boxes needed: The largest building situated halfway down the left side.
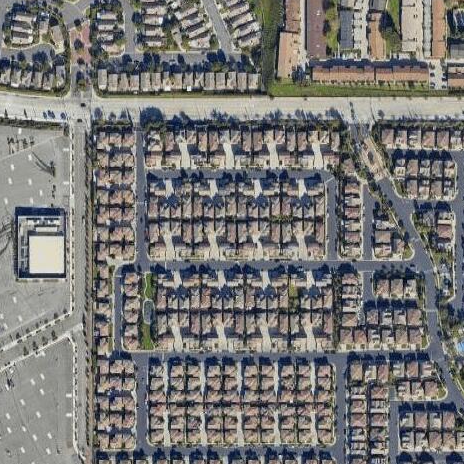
[16,216,66,281]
